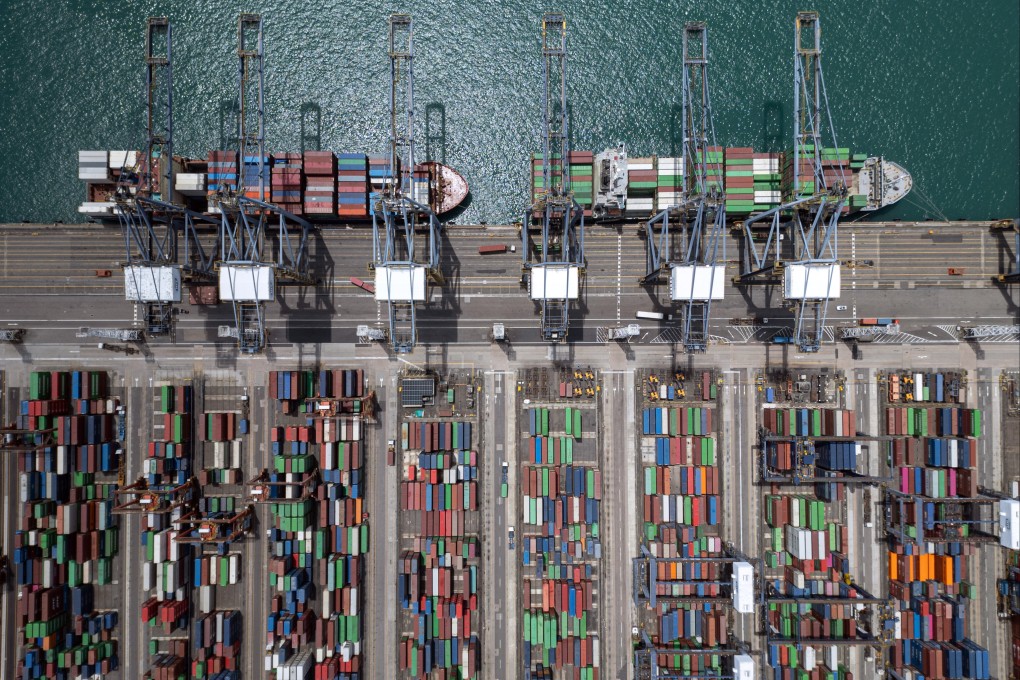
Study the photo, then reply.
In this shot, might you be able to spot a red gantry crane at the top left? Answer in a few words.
No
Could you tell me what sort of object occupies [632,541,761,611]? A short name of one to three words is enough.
container crane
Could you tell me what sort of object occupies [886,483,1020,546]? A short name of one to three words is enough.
container crane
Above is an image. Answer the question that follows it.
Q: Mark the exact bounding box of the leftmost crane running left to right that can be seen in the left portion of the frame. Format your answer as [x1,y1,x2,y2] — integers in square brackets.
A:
[0,424,60,453]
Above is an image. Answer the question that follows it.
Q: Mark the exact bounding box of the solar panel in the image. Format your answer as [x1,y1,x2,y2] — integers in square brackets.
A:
[402,380,433,405]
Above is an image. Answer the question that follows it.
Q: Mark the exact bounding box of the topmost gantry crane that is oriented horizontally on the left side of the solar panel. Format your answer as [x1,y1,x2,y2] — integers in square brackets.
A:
[302,390,377,422]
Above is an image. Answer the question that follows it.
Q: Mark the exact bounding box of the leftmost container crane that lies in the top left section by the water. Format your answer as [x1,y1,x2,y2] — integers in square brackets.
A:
[106,12,250,337]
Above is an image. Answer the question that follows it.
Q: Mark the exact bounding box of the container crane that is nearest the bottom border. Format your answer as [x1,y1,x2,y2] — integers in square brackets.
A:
[632,624,761,680]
